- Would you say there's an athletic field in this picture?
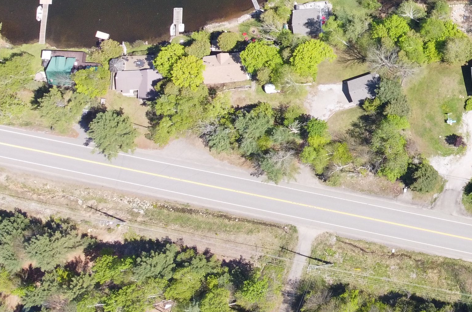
No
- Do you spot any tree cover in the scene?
Yes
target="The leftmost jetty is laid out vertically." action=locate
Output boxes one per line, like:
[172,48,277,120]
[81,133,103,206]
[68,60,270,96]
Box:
[39,0,52,45]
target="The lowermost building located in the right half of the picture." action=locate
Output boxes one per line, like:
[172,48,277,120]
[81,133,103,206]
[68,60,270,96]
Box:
[348,74,382,103]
